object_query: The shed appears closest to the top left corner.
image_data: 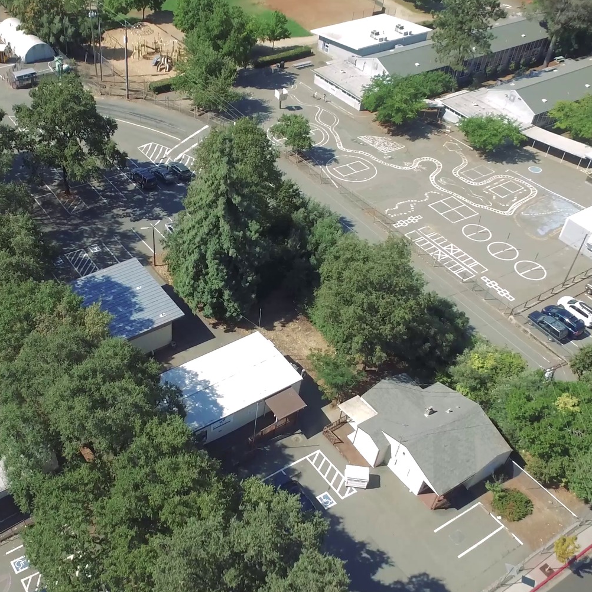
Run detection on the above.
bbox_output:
[0,16,51,63]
